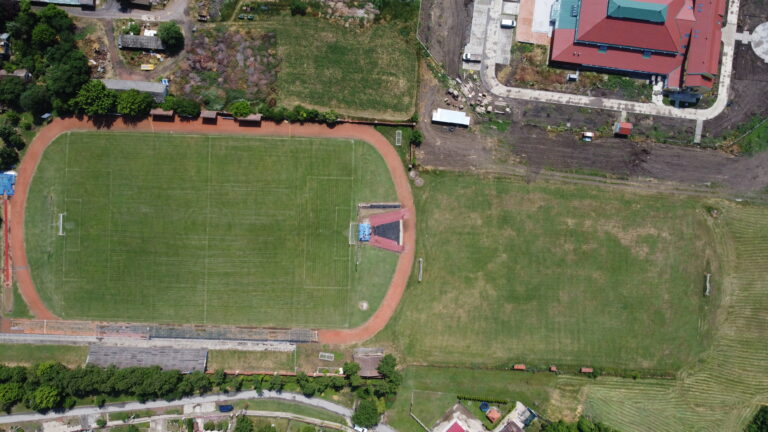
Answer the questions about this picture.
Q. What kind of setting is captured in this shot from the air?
sports ground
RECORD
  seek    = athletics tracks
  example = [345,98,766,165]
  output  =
[11,118,416,345]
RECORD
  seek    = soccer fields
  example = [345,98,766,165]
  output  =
[395,176,718,364]
[25,130,400,330]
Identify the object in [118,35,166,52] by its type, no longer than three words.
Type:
barn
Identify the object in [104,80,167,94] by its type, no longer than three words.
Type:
shed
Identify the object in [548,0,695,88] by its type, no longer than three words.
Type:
building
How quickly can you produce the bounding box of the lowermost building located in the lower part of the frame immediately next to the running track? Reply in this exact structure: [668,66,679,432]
[352,346,385,376]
